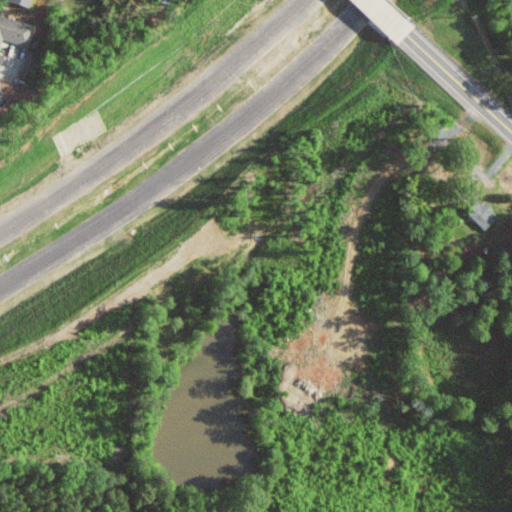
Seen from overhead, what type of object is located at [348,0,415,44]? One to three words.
bridge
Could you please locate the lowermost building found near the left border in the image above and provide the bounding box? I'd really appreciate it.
[0,12,38,50]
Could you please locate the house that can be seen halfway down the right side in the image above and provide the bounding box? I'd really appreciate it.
[466,203,494,232]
